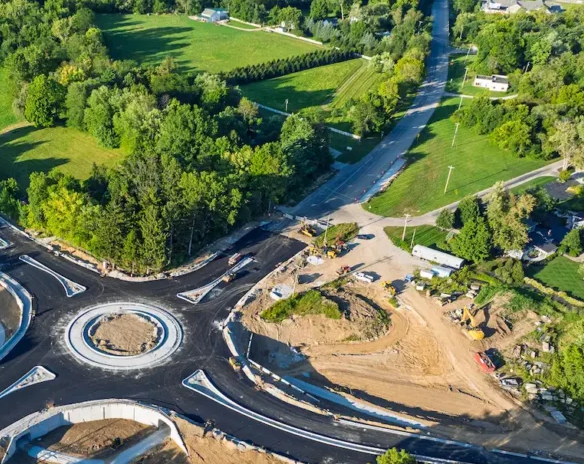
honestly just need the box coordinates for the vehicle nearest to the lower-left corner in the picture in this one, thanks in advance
[231,356,244,373]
